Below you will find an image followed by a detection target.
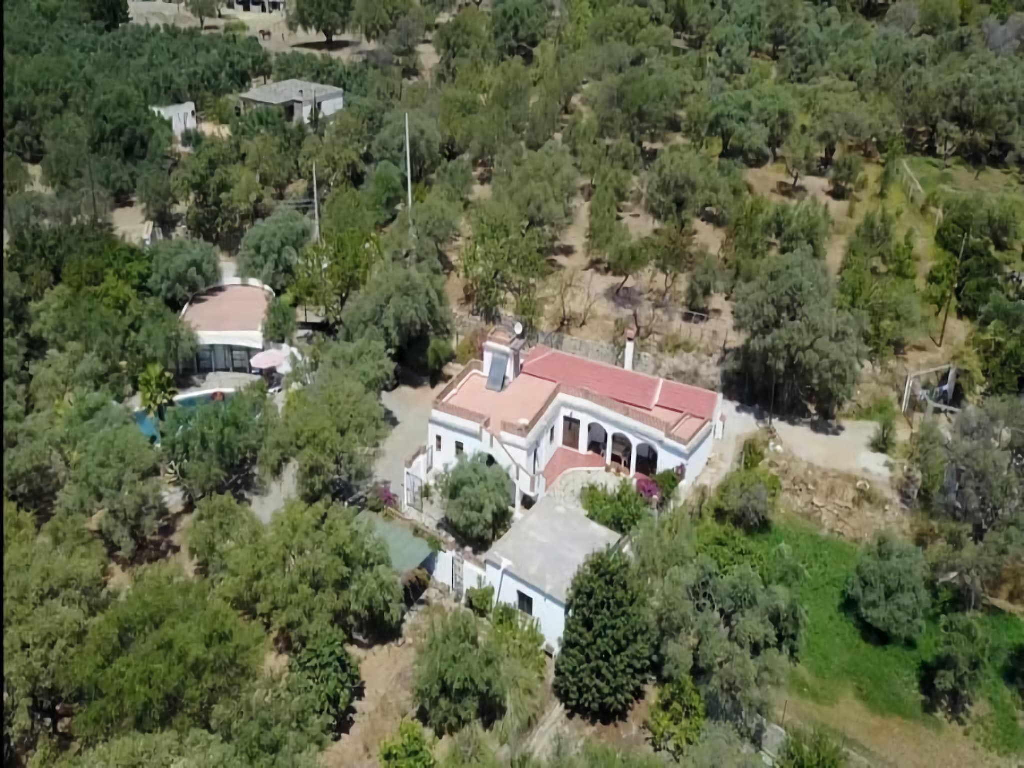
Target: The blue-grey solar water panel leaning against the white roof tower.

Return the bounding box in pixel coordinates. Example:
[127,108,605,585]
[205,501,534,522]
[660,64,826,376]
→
[487,355,508,392]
